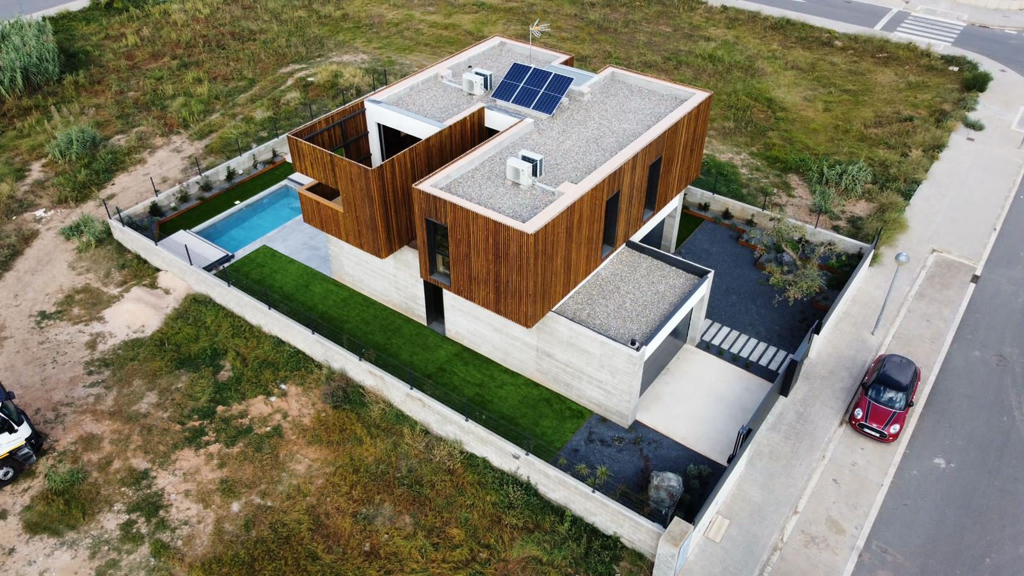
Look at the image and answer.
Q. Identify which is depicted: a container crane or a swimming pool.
swimming pool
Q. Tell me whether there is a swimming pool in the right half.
No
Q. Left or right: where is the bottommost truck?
left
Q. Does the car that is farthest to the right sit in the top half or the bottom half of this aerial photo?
bottom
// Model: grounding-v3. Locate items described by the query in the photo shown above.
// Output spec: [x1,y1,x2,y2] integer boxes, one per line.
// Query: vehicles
[0,401,50,489]
[846,349,931,447]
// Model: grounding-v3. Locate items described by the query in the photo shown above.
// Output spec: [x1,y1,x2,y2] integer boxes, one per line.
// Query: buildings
[287,35,714,428]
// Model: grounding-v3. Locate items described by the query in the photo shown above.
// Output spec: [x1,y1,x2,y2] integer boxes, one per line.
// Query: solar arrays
[492,62,572,121]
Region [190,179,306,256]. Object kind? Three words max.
swimming pool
